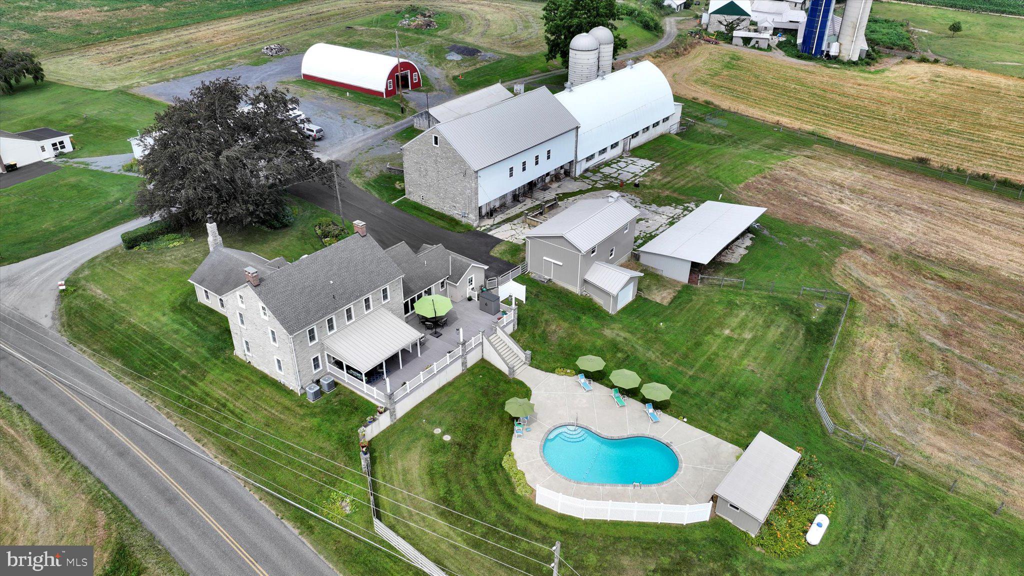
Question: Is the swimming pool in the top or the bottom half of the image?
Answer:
bottom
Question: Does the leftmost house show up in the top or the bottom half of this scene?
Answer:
top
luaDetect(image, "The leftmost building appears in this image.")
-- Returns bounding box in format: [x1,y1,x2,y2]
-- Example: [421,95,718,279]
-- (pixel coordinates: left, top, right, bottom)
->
[0,112,73,174]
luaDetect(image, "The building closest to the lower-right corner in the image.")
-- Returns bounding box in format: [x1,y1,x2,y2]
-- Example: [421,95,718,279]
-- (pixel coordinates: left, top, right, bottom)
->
[714,433,804,536]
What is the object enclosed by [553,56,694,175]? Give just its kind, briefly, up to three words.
barn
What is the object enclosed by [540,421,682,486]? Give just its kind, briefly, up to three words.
swimming pool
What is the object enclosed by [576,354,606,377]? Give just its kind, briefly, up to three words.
umbrella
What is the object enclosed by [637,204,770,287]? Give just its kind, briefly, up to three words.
shed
